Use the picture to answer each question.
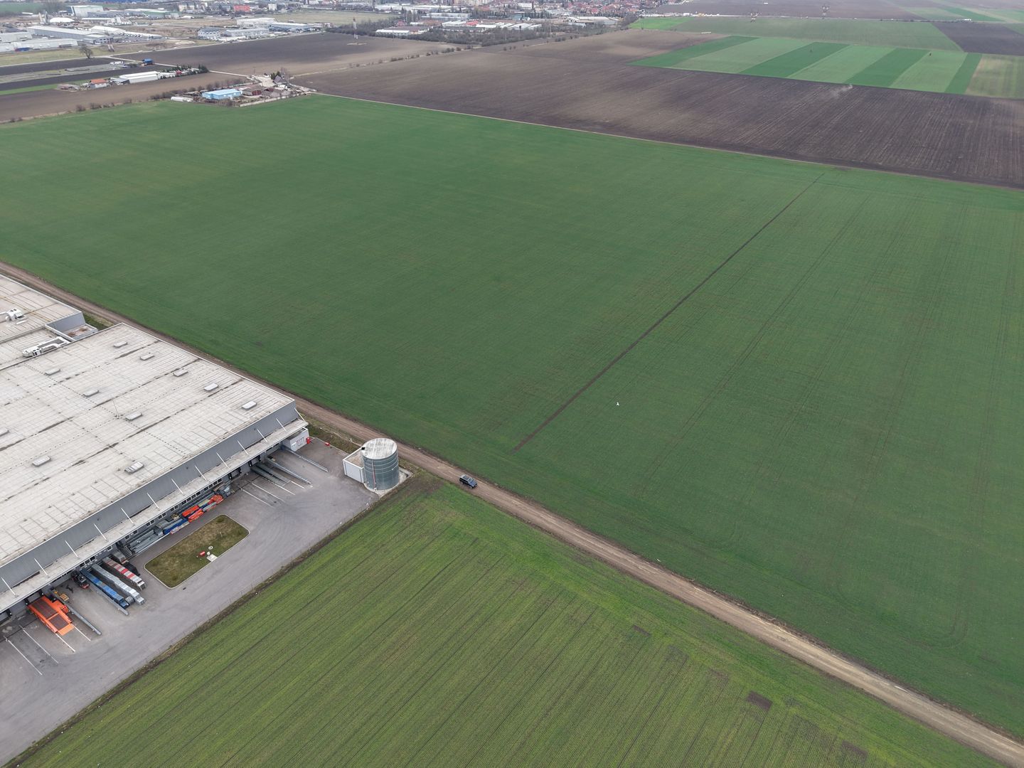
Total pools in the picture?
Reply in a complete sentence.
The picture shows no pools.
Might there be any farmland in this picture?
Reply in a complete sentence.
Yes, some farmland is visible.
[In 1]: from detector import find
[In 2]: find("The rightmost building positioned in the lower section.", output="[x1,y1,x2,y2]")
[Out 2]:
[343,447,365,483]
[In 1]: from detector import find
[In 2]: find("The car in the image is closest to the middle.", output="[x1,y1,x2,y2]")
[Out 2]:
[456,474,475,488]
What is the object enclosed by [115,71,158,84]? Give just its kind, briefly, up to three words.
barn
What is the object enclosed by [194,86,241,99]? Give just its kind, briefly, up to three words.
shed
